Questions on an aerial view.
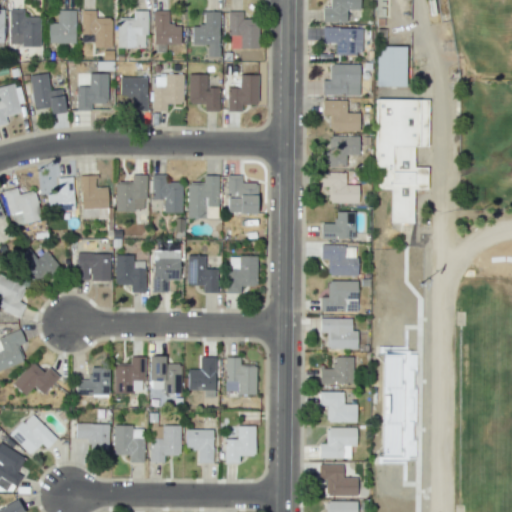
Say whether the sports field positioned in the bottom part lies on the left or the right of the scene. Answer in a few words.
right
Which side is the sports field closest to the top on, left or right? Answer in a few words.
right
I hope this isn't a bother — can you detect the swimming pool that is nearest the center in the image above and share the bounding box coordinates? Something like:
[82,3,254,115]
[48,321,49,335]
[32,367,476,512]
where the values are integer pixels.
[190,224,214,236]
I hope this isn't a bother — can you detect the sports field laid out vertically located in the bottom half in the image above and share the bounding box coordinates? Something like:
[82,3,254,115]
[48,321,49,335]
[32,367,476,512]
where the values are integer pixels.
[456,240,512,512]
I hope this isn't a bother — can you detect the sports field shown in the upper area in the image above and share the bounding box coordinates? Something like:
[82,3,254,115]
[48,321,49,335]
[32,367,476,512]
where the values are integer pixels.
[452,0,512,206]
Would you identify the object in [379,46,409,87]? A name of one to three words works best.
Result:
building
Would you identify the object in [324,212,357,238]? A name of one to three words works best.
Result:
house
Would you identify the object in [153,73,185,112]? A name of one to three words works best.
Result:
house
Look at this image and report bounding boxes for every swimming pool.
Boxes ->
[46,414,64,434]
[190,224,214,236]
[357,212,366,234]
[68,218,80,230]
